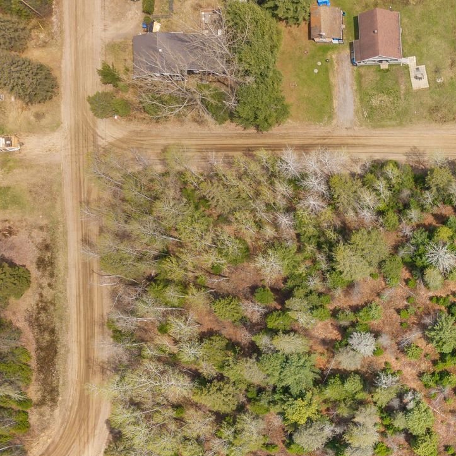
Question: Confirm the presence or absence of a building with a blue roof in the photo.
No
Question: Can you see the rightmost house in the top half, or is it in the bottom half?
top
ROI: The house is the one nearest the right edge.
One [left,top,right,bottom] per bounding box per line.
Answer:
[354,7,402,65]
